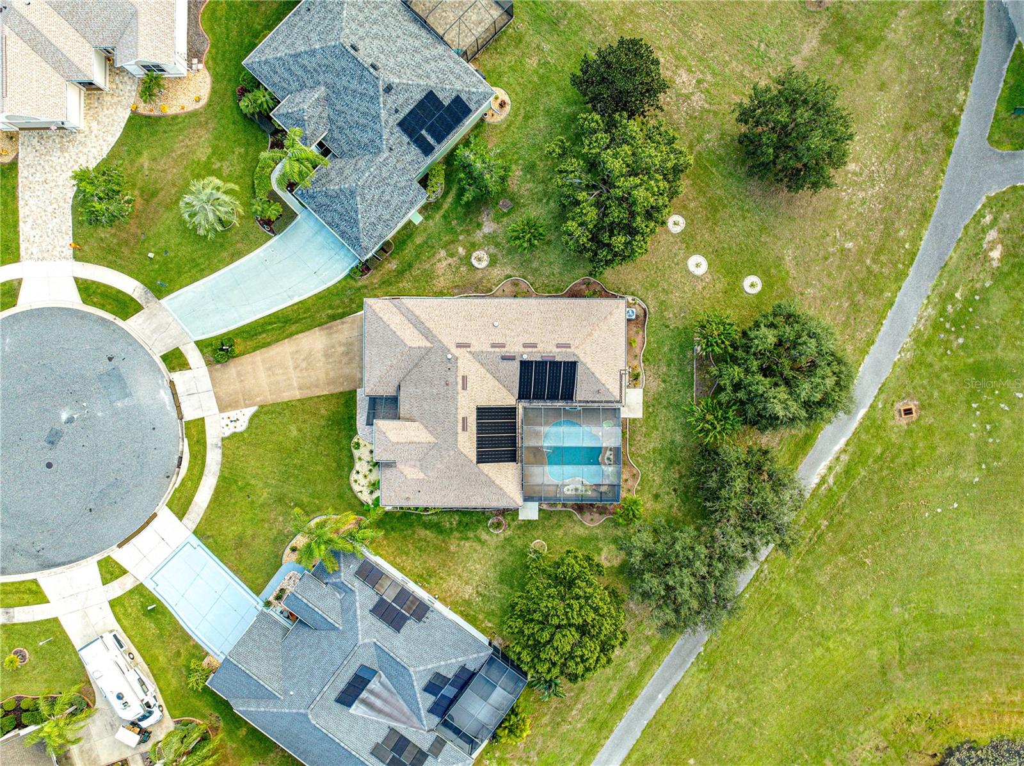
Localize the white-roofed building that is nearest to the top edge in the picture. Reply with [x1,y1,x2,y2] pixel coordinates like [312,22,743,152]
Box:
[0,0,185,128]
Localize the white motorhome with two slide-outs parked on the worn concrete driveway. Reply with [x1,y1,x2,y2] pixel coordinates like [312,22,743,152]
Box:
[78,628,166,725]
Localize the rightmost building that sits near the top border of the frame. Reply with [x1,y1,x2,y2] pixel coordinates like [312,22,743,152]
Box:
[242,0,497,260]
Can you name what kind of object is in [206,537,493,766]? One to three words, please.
house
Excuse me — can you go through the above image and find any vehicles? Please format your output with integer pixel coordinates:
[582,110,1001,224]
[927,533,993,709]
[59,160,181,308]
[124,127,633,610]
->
[78,628,166,725]
[117,718,152,747]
